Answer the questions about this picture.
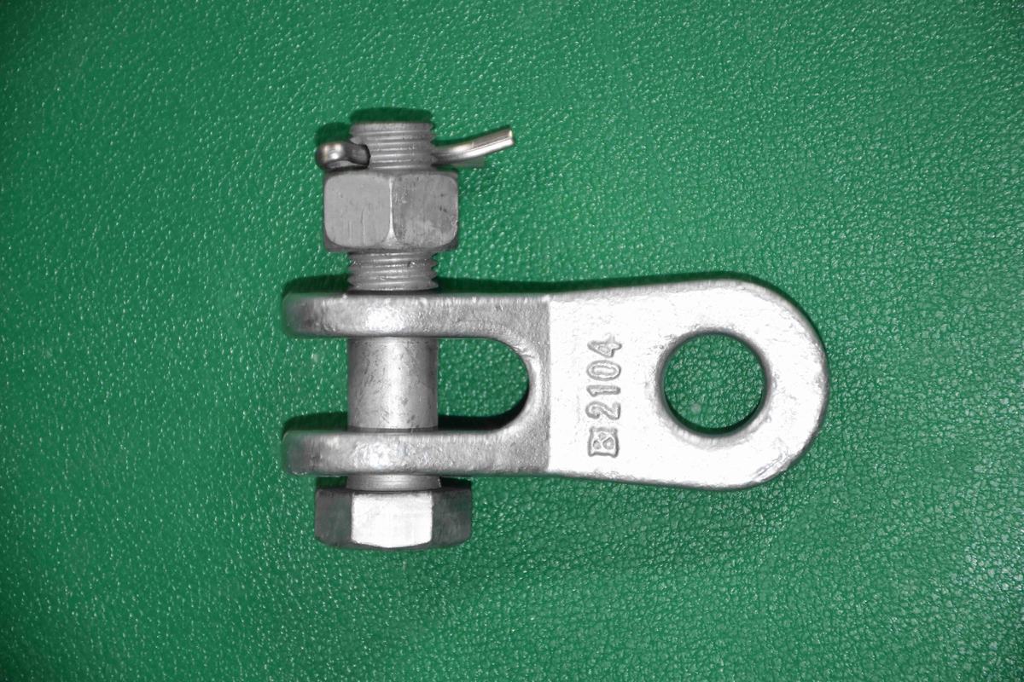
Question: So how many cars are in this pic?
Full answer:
The picture shows no cars.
